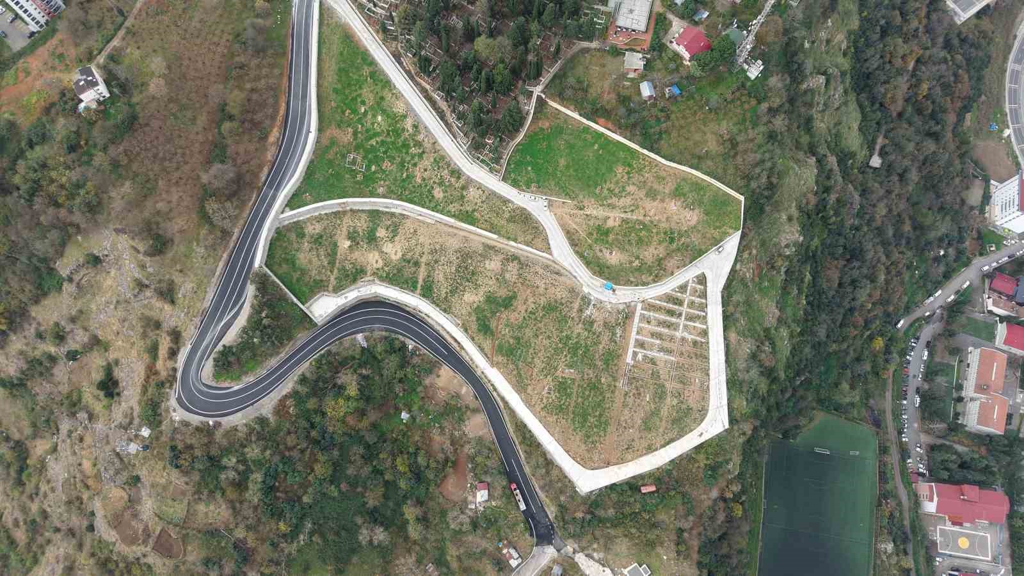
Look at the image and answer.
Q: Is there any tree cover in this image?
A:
Yes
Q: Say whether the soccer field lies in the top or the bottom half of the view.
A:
bottom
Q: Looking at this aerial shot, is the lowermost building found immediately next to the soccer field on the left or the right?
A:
right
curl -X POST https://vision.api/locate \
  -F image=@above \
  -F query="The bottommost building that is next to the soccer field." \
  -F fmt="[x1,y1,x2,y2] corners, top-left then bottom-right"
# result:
[918,482,1009,525]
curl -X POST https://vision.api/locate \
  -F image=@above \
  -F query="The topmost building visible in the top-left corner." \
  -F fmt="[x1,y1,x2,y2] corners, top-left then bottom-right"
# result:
[6,0,61,29]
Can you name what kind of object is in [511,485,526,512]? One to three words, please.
vehicle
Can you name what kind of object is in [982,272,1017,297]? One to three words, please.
house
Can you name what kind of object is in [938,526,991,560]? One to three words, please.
basketball court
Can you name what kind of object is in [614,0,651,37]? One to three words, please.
building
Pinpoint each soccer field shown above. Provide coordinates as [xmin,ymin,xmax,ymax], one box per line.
[757,410,878,576]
